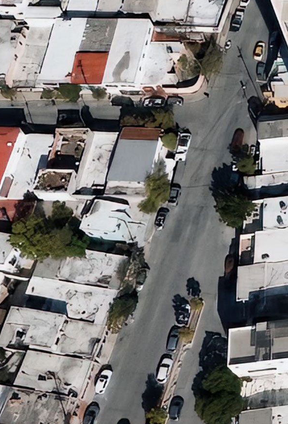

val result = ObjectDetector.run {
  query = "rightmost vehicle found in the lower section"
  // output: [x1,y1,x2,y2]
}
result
[223,253,236,276]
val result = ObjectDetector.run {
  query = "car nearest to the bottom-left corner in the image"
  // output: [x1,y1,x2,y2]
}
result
[82,401,101,424]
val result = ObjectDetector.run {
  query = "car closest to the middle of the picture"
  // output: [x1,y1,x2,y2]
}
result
[155,205,171,230]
